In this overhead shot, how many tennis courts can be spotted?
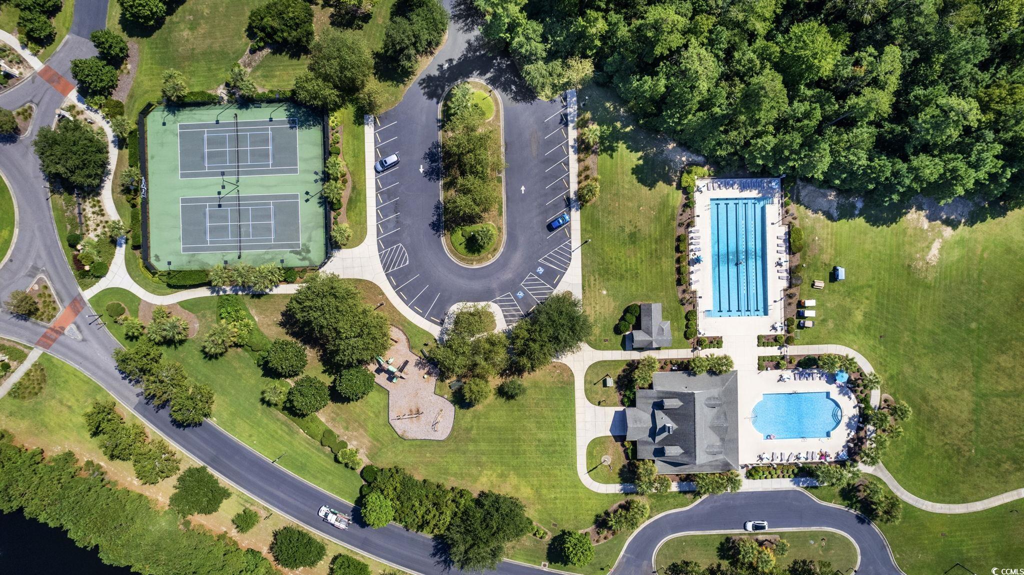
two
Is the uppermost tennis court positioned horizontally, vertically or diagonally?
horizontally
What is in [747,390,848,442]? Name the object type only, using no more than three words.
swimming pool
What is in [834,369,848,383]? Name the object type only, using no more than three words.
umbrella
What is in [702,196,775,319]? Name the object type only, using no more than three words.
swimming pool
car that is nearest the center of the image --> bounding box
[546,214,570,232]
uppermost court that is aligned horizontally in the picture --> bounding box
[178,118,299,179]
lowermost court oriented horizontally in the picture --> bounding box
[180,193,301,253]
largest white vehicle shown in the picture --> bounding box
[319,506,352,532]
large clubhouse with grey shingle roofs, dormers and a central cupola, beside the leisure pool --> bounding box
[624,371,738,474]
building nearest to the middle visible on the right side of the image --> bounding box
[625,304,672,348]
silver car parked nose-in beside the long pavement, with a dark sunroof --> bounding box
[374,154,399,172]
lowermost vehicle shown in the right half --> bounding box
[743,520,768,532]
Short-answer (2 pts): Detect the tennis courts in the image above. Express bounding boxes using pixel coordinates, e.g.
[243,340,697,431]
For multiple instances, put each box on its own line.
[180,193,301,253]
[178,118,299,179]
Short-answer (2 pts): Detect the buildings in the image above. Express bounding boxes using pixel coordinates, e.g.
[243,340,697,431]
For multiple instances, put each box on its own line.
[624,371,738,474]
[625,304,672,348]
